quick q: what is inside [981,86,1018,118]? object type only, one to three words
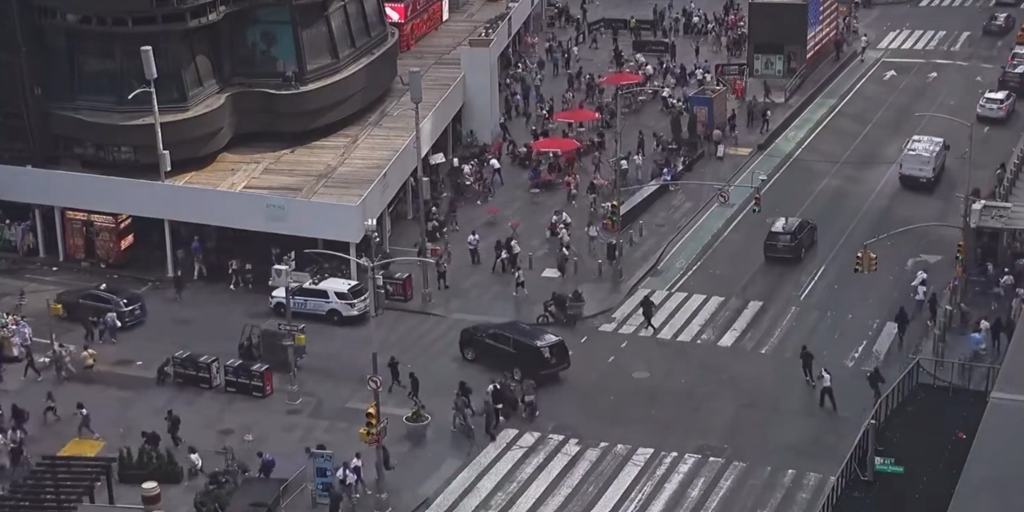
car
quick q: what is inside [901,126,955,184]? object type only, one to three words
vehicle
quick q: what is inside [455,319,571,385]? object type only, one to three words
car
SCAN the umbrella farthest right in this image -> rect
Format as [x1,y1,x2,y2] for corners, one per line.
[600,75,643,115]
